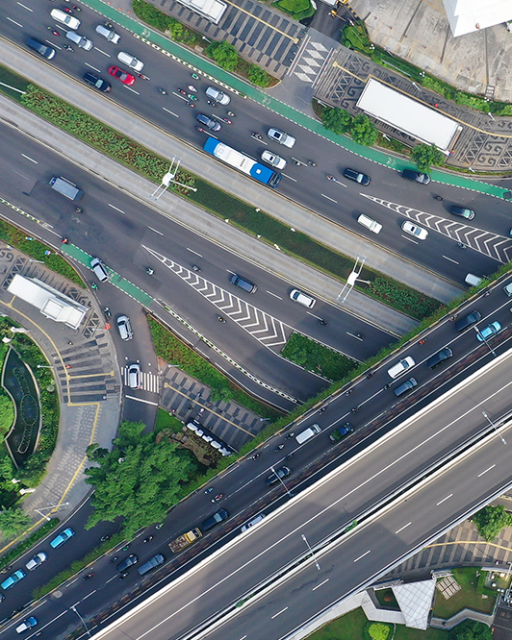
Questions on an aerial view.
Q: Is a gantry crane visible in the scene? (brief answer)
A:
No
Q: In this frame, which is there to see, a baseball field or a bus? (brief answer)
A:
bus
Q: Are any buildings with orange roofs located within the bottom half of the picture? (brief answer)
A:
No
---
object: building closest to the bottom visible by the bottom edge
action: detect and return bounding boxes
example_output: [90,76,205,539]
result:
[392,578,440,630]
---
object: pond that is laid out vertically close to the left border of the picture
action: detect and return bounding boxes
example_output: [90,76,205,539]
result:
[5,349,41,467]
